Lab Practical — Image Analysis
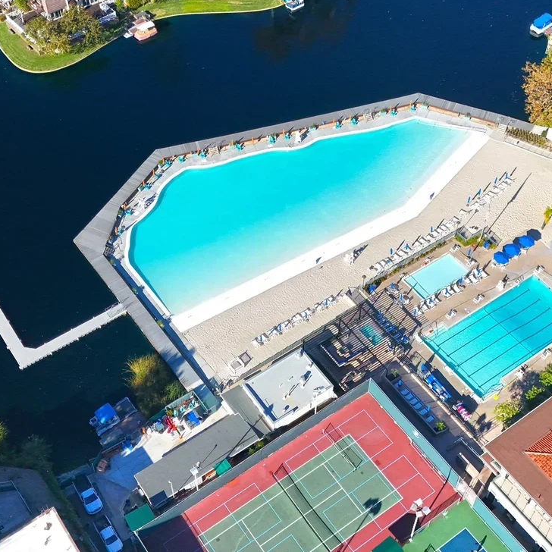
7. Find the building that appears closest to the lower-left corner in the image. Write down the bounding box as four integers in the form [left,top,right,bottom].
[0,505,83,552]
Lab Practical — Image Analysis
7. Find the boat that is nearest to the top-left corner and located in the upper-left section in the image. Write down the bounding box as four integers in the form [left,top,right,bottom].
[123,18,161,40]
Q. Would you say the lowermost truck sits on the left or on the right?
left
